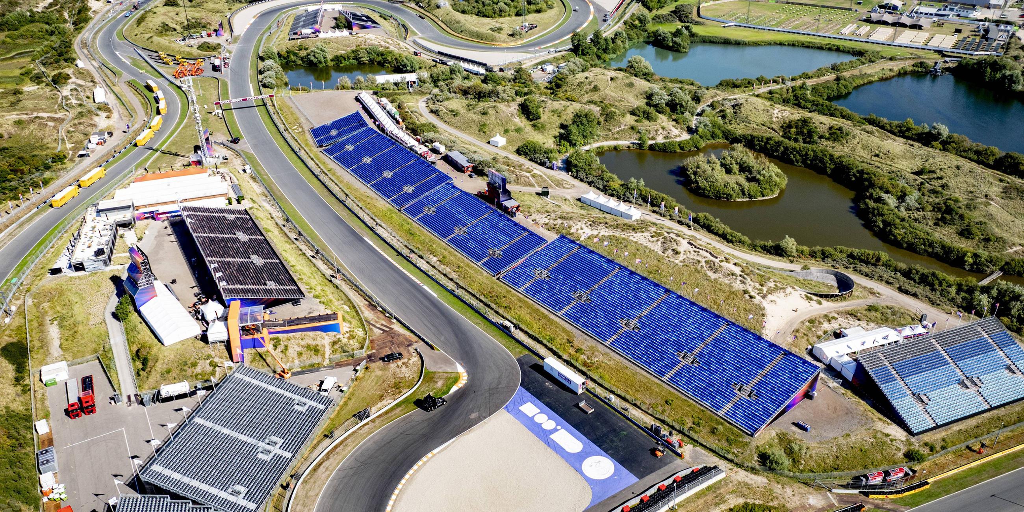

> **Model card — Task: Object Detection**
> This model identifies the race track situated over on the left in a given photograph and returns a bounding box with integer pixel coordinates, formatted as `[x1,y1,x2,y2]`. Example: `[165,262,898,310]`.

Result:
[229,0,590,512]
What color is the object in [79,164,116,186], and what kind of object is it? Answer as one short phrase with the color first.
yellow truck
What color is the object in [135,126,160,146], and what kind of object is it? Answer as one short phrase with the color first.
yellow vehicle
